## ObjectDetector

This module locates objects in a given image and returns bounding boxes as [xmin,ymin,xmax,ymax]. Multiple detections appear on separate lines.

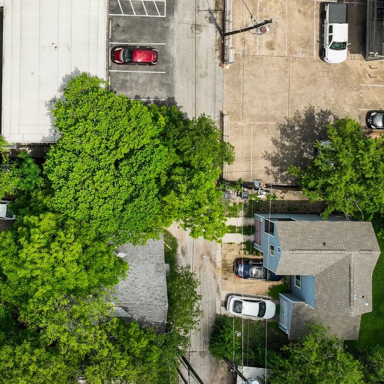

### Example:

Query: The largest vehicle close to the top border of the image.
[321,2,350,64]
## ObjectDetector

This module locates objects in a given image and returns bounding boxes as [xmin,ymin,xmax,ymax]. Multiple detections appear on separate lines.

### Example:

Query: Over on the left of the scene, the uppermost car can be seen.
[110,44,159,67]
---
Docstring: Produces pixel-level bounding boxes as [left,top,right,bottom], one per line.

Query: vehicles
[321,2,350,64]
[110,44,159,67]
[225,295,275,321]
[0,200,19,220]
[233,258,282,281]
[363,109,384,132]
